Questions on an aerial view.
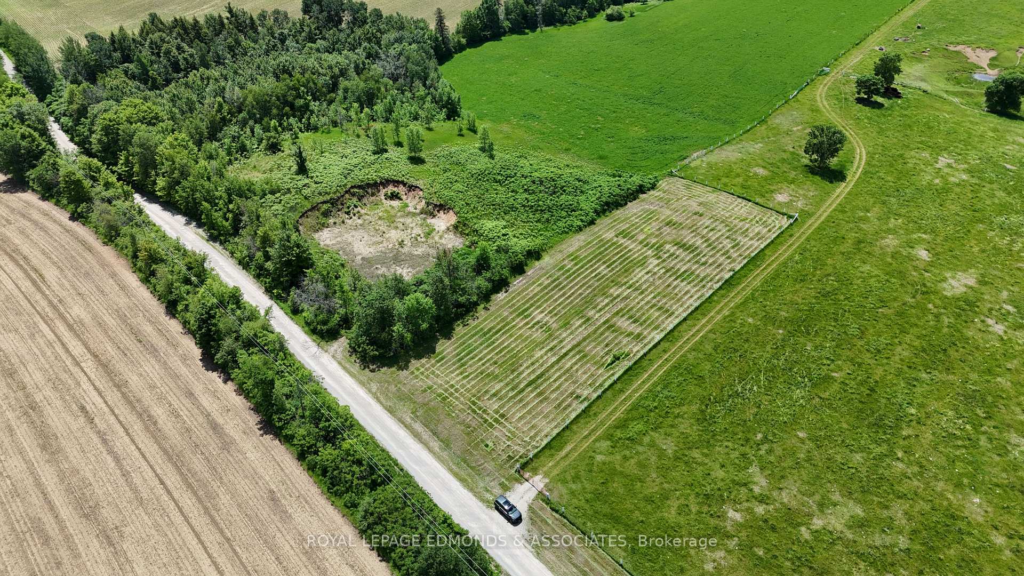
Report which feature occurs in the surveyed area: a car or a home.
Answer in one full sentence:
Of the two, only a car appears.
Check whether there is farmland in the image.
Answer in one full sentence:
Yes, some farmland is visible.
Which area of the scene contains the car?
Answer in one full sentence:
Look in the bottom portion of the view to spot the car.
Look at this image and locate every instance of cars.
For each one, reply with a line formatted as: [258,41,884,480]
[492,497,520,526]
